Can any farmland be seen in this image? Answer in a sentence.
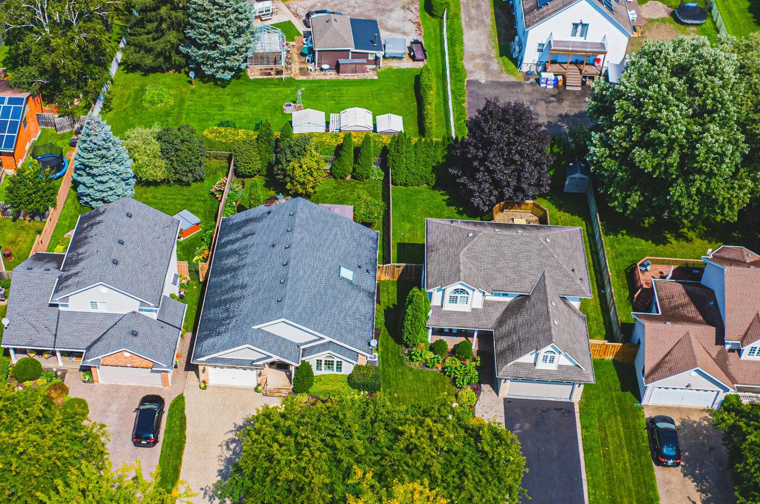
No, no farmland is visible.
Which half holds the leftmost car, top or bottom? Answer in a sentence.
The leftmost car sits in the bottom half of the picture.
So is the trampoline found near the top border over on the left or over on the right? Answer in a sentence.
The trampoline found near the top border is on the right side of the image.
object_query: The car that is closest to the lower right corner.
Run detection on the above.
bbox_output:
[648,414,689,466]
